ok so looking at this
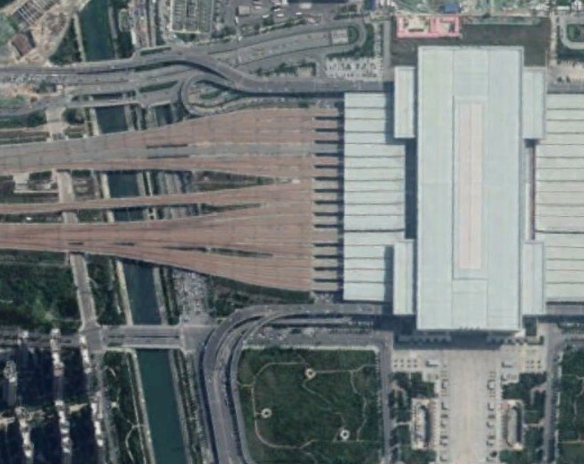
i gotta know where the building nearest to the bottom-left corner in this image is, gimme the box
[17,408,34,464]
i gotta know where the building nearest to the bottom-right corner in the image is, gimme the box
[504,399,522,451]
